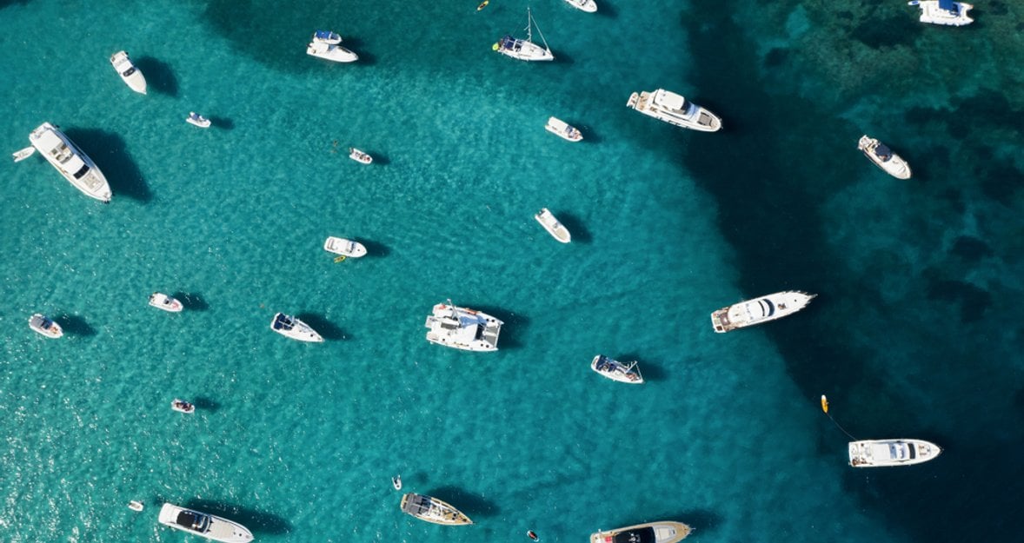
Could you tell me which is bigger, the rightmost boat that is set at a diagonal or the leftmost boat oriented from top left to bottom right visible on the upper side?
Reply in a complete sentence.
It is the leftmost boat oriented from top left to bottom right visible on the upper side that is larger, not the rightmost boat that is set at a diagonal.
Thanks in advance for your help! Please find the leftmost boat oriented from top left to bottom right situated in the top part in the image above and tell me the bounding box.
[31,123,114,200]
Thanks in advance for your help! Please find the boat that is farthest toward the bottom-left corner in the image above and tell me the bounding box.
[128,500,144,512]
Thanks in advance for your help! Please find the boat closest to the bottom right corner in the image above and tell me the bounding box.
[845,438,945,468]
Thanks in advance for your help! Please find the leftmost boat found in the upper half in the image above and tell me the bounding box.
[13,146,35,162]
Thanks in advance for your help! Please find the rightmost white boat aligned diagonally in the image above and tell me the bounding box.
[857,138,912,180]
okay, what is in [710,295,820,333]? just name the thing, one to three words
boat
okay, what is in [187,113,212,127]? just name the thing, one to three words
boat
